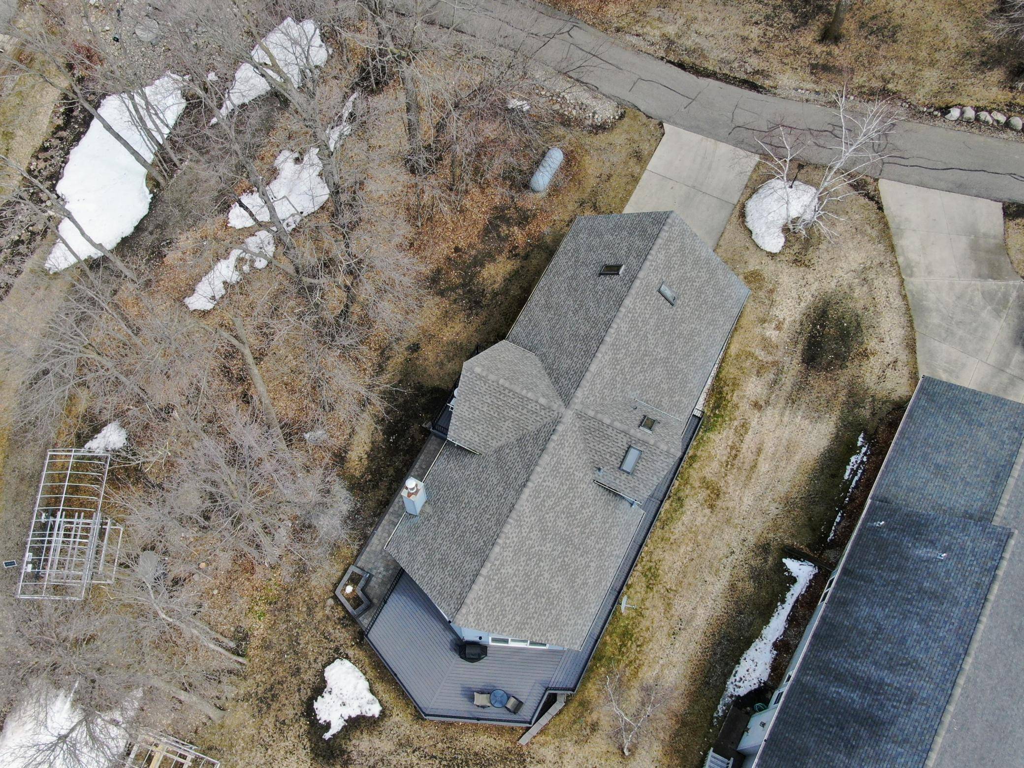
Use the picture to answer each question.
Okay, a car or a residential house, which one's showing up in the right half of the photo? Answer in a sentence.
What appears in the right half of the photo is a residential house.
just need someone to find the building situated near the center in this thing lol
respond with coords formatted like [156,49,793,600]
[382,211,750,652]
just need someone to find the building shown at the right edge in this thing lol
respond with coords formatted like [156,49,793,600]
[738,374,1024,768]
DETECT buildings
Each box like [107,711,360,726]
[738,374,1024,768]
[382,211,750,652]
